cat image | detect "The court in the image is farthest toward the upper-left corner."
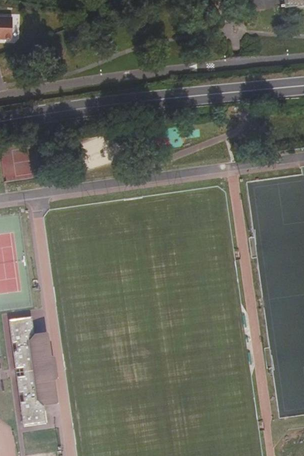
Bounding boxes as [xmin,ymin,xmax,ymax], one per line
[0,146,34,183]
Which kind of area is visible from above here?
sports ground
